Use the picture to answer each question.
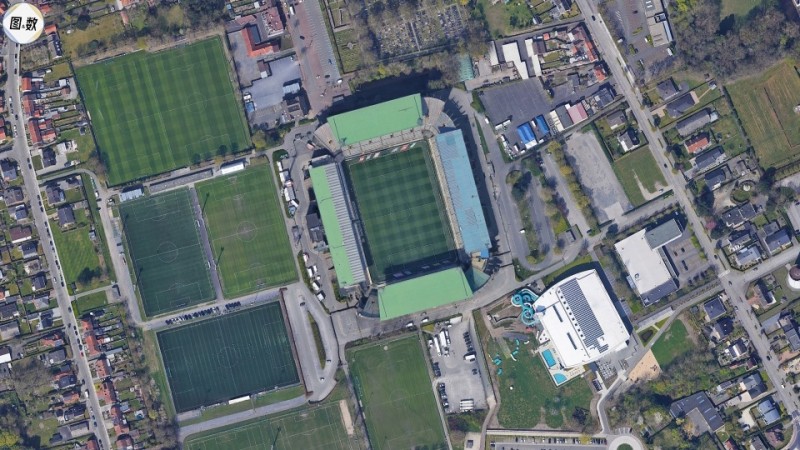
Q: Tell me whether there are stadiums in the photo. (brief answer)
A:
Yes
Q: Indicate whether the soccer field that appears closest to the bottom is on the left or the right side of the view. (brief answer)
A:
left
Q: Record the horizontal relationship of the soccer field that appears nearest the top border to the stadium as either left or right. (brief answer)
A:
to the left of it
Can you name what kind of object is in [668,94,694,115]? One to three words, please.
house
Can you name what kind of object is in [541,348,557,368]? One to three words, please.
swimming pool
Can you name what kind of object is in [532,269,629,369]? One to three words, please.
building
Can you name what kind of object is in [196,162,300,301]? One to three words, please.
soccer field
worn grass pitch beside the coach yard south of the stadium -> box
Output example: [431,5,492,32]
[346,333,448,450]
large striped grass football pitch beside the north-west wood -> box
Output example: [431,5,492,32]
[76,35,252,187]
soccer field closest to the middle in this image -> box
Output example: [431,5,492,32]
[346,142,458,284]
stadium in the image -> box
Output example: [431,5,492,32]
[309,92,491,322]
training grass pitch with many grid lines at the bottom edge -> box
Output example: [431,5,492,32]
[184,401,359,450]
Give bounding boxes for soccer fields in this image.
[76,35,252,187]
[196,162,300,301]
[156,302,302,413]
[184,401,359,450]
[346,142,458,284]
[118,186,217,319]
[346,333,448,450]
